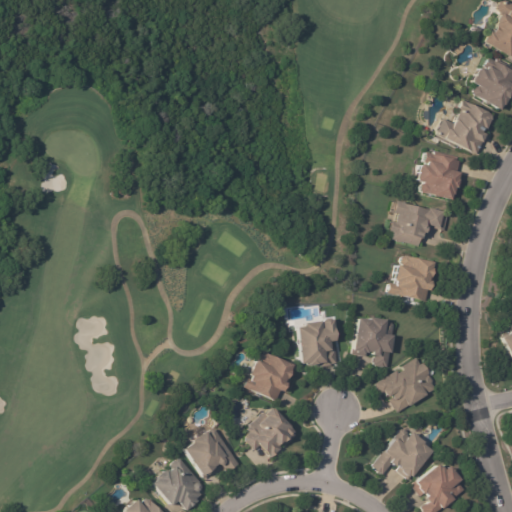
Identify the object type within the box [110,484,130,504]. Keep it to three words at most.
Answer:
swimming pool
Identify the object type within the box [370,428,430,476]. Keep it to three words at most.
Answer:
house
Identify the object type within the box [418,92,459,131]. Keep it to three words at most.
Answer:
swimming pool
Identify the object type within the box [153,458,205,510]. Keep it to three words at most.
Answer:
house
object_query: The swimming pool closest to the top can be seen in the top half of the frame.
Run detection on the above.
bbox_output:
[470,0,497,30]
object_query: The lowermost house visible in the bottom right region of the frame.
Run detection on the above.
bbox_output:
[410,462,464,512]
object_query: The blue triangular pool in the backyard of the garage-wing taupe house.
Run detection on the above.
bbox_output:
[423,426,442,444]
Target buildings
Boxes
[499,328,512,359]
[298,321,340,364]
[434,99,494,154]
[472,56,512,108]
[242,409,295,457]
[350,320,394,367]
[242,354,295,400]
[410,462,464,512]
[121,498,162,512]
[384,254,437,300]
[370,428,430,476]
[418,150,465,199]
[153,458,205,510]
[387,202,445,244]
[184,428,240,476]
[374,357,436,413]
